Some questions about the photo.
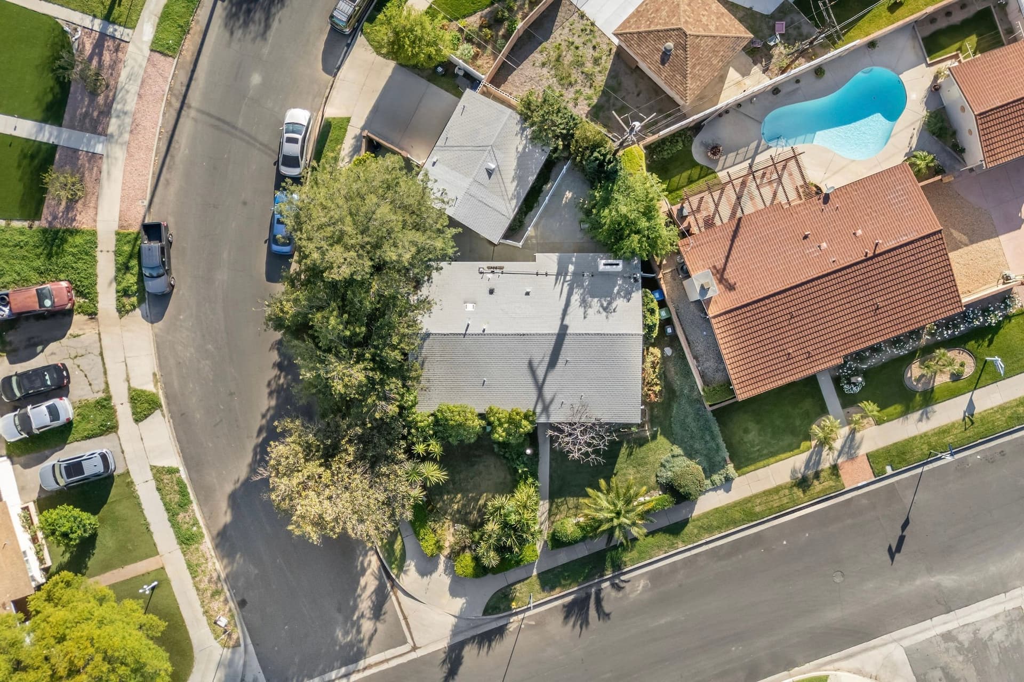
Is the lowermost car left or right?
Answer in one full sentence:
The lowermost car is on the left side of the image.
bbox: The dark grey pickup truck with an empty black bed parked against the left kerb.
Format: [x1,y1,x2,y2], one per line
[137,221,174,295]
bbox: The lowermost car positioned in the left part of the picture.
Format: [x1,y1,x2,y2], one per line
[36,447,114,489]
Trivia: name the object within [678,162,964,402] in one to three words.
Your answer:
house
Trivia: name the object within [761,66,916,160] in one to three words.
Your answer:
swimming pool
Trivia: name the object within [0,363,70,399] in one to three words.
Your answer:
car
